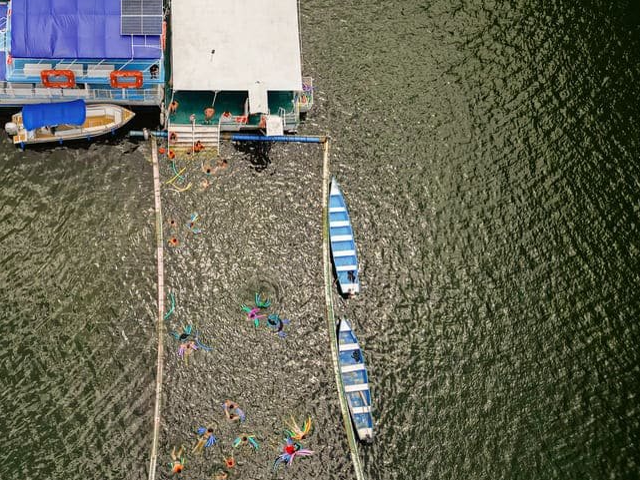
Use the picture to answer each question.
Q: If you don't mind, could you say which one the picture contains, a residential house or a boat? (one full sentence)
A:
This aerial view contains a boat.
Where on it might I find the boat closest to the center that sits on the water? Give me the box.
[330,176,359,299]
